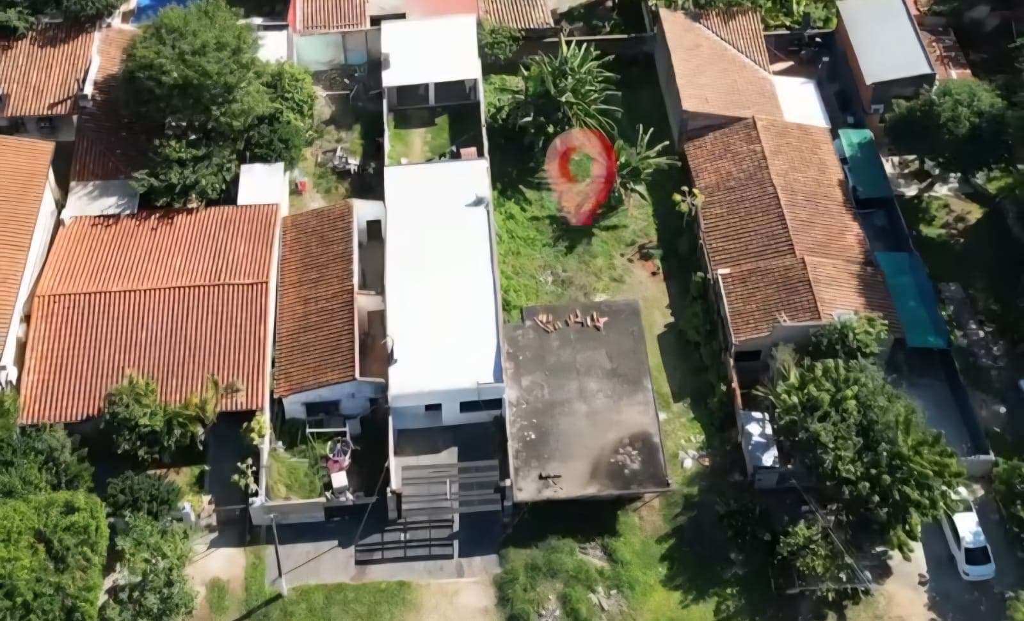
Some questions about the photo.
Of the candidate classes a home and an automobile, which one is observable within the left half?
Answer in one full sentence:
Looking within the left half, you will find a home.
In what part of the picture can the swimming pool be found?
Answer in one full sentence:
The swimming pool sits in the top left section of the image.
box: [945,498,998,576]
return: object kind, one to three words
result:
car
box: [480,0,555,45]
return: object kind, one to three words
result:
house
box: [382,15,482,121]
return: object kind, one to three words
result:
building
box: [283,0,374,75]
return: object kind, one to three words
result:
house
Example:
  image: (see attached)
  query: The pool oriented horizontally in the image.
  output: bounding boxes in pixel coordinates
[123,0,224,30]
